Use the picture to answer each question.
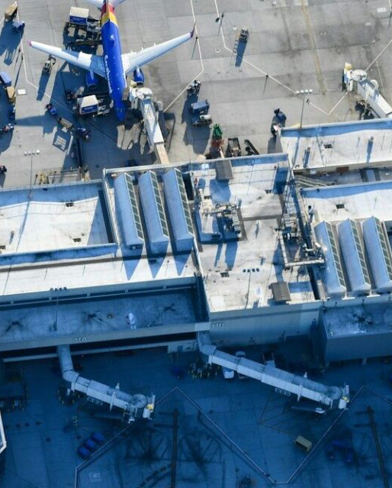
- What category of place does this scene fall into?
airport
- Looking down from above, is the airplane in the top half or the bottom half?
top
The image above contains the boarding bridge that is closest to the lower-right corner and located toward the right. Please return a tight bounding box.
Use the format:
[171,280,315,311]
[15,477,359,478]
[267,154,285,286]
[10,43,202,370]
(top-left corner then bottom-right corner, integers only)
[199,328,354,411]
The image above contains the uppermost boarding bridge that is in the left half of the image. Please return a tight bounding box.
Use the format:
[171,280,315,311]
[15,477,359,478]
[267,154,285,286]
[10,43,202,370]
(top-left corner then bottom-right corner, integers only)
[124,76,168,167]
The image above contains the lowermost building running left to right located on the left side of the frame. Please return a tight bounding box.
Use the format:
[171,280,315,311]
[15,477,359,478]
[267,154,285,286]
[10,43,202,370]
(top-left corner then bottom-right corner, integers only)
[0,290,206,363]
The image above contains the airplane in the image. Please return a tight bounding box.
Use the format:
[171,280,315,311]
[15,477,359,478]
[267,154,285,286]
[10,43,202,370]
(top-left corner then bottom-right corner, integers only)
[25,0,196,121]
